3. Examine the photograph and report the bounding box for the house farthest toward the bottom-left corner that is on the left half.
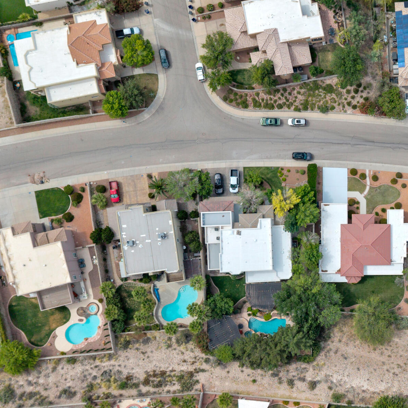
[0,212,84,310]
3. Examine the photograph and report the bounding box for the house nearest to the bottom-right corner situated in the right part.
[319,203,408,283]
